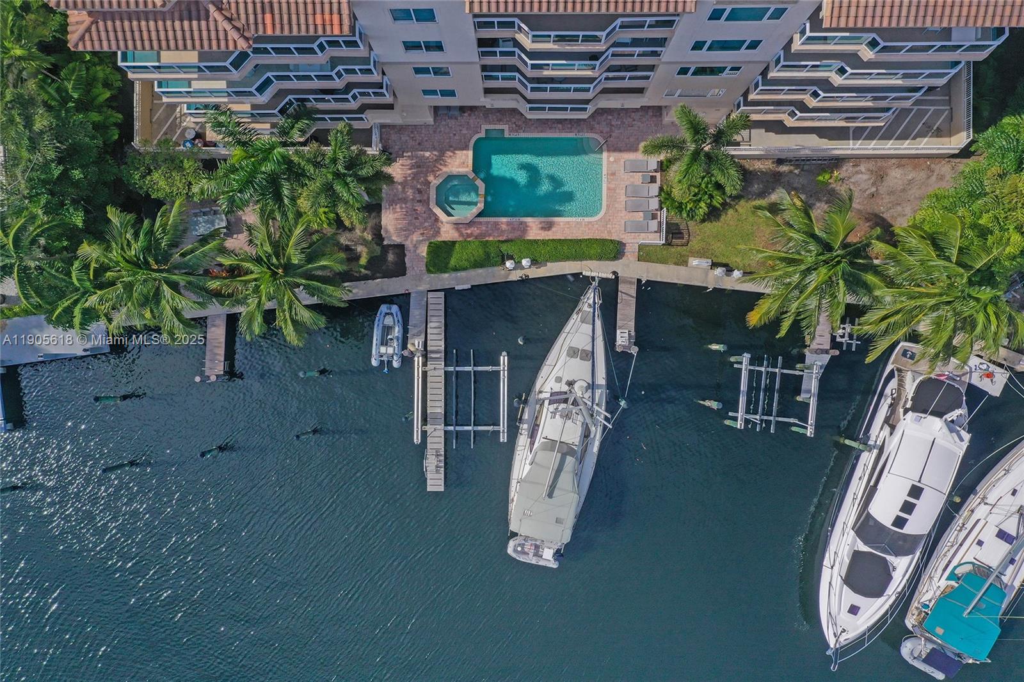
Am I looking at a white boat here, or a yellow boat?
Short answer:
white boat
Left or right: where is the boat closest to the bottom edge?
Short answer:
right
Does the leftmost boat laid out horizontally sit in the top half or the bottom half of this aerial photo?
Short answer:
bottom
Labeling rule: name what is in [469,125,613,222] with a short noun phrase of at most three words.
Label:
swimming pool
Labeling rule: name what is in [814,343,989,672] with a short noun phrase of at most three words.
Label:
boat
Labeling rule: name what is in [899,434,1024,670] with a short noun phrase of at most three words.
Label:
boat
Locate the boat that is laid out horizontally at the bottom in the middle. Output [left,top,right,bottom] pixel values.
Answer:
[507,536,563,567]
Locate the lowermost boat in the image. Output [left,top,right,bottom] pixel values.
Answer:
[898,634,963,680]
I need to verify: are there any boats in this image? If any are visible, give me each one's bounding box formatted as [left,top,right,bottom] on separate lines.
[899,434,1024,670]
[508,273,613,555]
[814,343,989,672]
[372,303,403,372]
[507,536,563,567]
[898,634,963,680]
